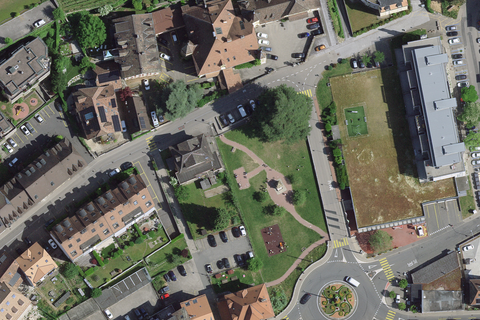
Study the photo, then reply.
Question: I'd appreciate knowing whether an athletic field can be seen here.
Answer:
Yes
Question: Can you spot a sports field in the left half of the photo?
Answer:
No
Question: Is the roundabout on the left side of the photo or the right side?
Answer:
right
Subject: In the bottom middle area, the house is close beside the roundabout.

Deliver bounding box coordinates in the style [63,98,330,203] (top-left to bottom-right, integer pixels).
[217,284,274,320]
